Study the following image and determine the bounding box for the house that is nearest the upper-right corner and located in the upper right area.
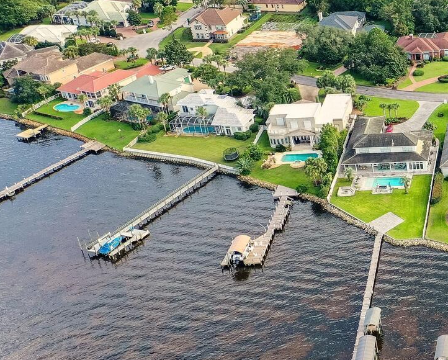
[396,29,448,62]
